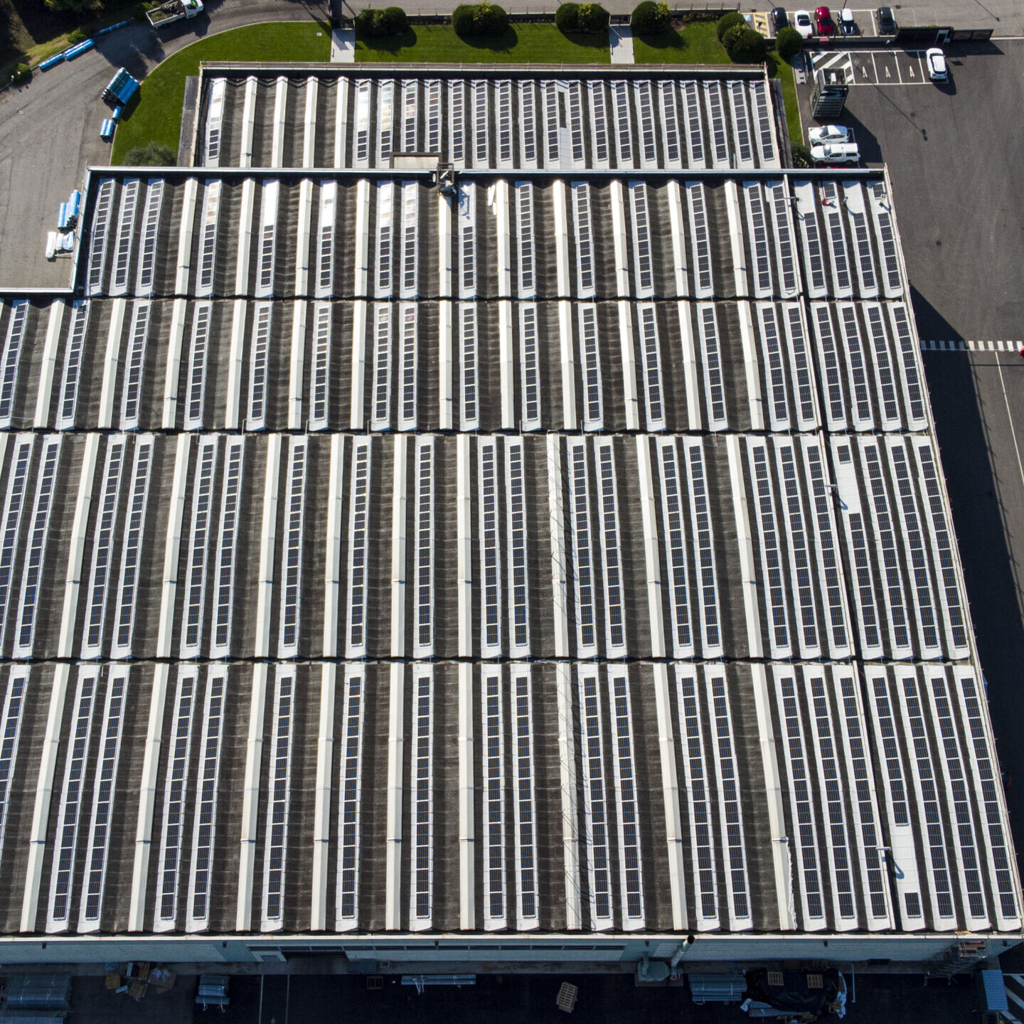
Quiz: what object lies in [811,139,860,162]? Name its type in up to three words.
truck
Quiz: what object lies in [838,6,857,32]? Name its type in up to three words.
car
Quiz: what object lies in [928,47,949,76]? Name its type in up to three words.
car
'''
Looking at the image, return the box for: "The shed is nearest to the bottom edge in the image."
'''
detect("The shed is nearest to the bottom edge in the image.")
[973,970,1008,1014]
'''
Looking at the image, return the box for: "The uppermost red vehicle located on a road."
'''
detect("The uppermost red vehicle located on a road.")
[815,5,834,33]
